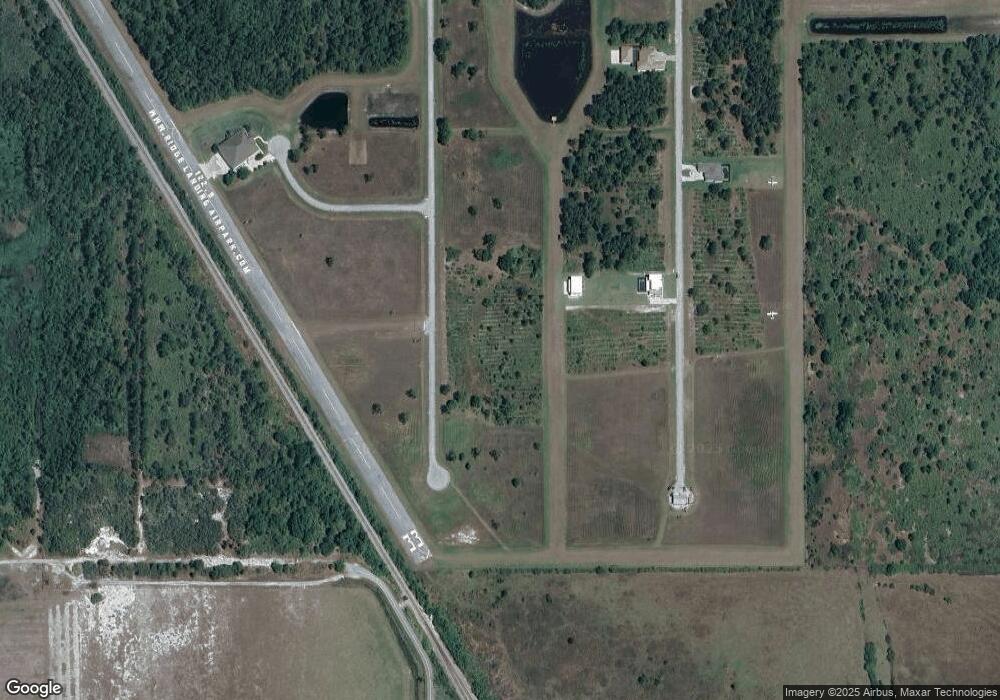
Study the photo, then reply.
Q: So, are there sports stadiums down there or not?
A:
No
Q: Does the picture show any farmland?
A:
Yes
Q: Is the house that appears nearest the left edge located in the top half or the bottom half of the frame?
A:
top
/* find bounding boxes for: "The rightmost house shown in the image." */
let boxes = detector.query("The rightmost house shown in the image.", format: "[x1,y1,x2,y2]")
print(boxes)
[683,164,729,183]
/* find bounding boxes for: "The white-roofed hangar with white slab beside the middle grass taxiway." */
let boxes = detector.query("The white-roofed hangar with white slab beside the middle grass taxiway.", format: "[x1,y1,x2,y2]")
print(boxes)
[563,276,582,298]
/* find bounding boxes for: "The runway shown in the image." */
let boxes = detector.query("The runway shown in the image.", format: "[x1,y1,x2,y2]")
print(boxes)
[79,0,434,565]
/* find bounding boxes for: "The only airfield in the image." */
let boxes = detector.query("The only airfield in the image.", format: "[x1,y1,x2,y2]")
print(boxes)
[79,0,810,565]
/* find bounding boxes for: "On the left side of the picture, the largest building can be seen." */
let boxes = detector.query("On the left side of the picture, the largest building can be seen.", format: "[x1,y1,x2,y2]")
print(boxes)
[199,131,274,180]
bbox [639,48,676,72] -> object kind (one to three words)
house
